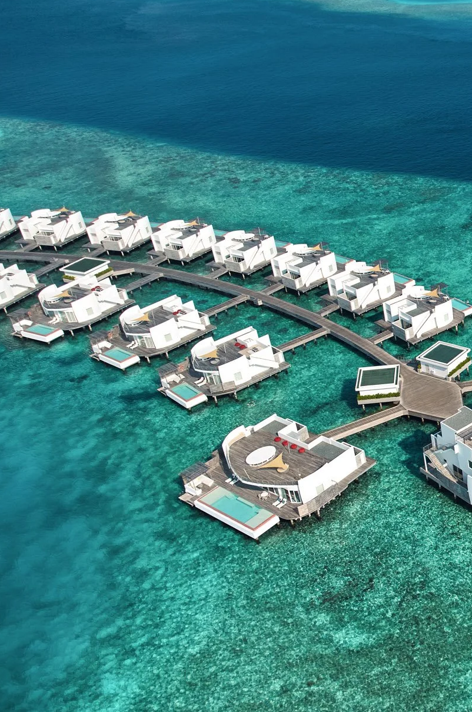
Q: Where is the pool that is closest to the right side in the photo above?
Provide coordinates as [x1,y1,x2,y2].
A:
[454,298,472,318]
